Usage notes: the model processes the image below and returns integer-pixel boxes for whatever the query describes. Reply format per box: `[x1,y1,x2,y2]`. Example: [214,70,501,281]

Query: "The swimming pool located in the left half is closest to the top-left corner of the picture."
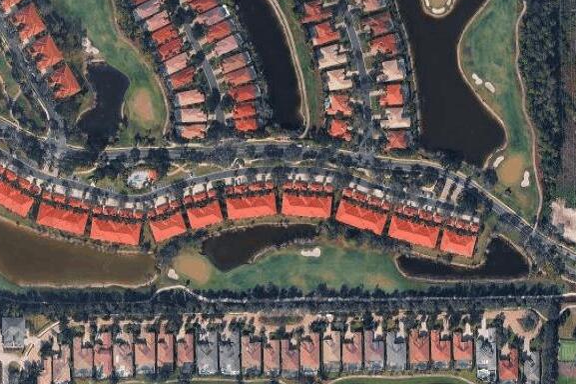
[127,169,150,187]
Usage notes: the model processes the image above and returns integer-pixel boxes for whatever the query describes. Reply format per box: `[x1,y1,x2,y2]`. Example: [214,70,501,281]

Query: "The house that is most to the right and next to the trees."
[524,351,542,384]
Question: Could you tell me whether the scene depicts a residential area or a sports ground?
residential area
